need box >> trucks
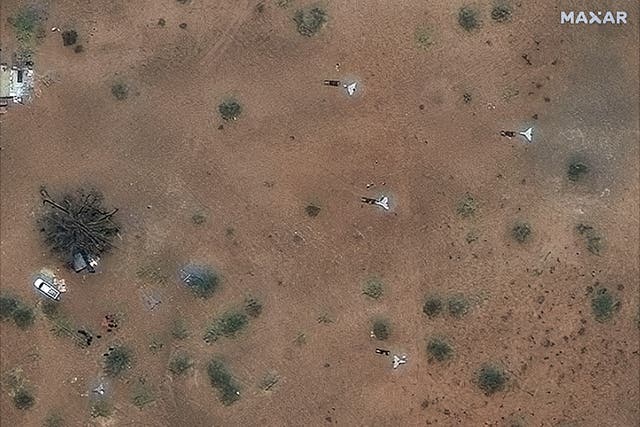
[34,280,60,301]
